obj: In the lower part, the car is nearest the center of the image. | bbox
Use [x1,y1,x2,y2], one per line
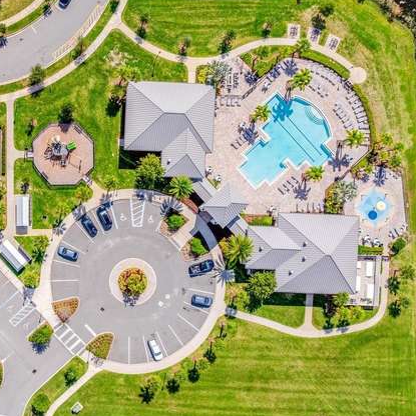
[187,260,213,276]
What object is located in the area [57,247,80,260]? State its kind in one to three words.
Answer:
vehicle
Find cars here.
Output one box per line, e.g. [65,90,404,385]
[97,204,113,229]
[59,0,70,6]
[80,214,98,236]
[147,338,162,360]
[190,296,212,307]
[57,247,80,260]
[187,260,213,276]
